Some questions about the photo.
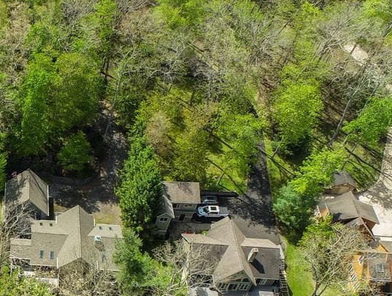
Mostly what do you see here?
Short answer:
trees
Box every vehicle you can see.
[200,194,224,206]
[198,205,232,218]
